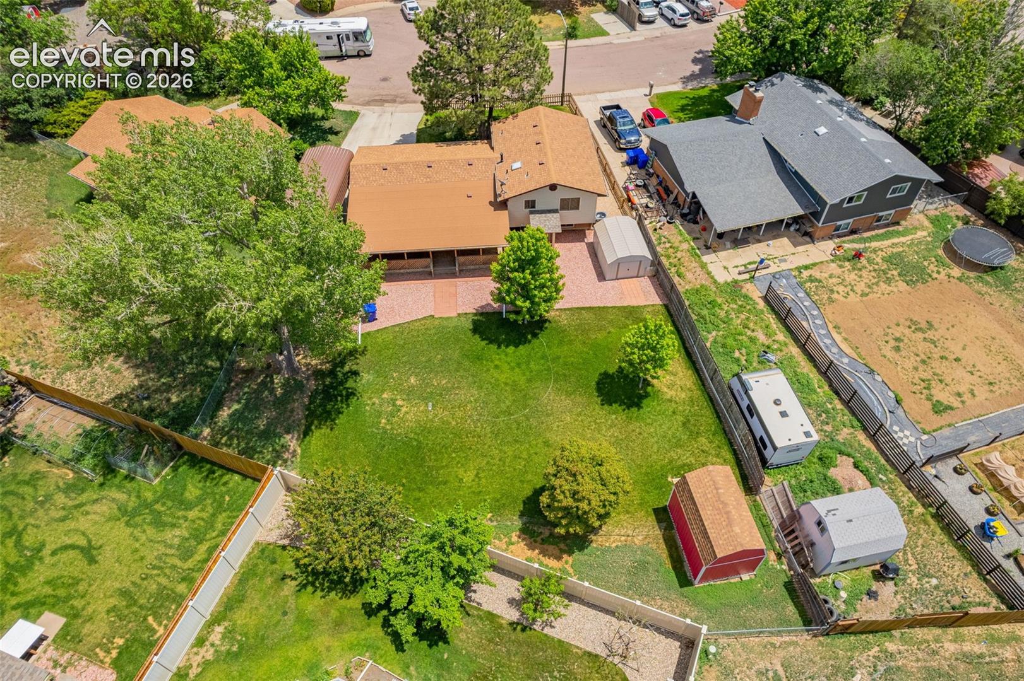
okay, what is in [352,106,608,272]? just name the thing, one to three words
house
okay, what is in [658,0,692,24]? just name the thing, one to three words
car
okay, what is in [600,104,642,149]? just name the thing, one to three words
truck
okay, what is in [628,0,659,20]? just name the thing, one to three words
vehicle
